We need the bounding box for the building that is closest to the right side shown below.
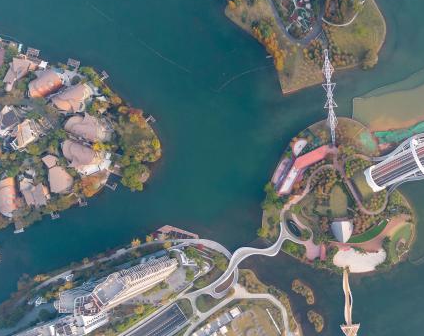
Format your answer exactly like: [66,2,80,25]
[331,220,352,243]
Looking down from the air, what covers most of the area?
water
